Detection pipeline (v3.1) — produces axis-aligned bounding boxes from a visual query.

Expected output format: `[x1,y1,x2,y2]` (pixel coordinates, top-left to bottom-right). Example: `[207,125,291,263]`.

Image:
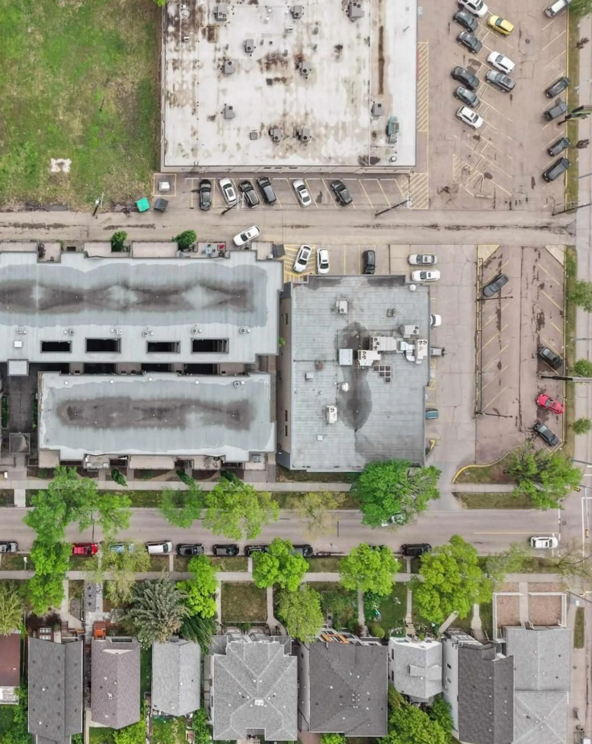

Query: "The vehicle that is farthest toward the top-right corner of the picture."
[542,0,570,20]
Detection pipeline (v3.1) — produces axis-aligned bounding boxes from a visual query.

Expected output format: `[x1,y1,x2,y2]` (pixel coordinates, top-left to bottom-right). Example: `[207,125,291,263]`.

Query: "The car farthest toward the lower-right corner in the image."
[527,535,558,549]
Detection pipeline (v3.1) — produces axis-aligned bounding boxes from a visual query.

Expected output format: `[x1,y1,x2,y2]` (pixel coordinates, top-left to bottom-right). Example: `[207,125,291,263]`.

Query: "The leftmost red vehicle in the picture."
[72,542,97,556]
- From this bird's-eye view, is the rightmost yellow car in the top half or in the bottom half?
top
